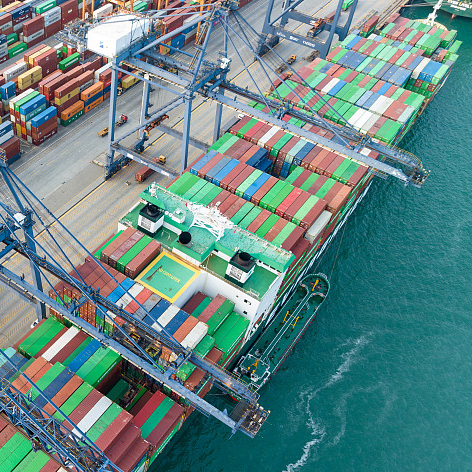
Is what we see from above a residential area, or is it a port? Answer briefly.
port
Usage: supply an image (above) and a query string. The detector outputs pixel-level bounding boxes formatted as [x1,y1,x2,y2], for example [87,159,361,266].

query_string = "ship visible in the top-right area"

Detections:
[438,0,472,22]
